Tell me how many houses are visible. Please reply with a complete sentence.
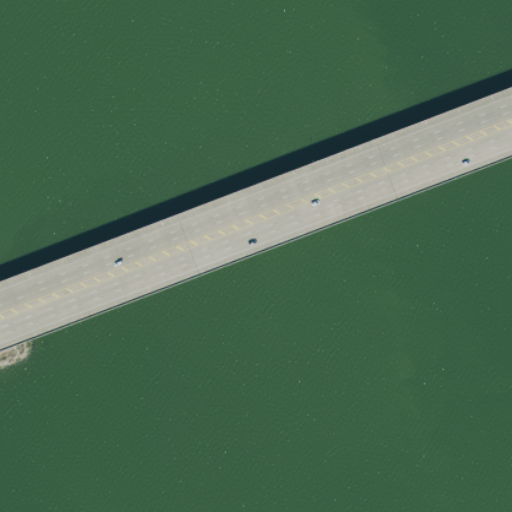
I count no houses.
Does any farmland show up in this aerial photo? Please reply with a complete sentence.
No, the picture contains no farmland.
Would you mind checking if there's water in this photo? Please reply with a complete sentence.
Yes, water shows up in the scene.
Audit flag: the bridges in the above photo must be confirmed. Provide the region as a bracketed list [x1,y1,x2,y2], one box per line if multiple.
[0,86,512,352]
